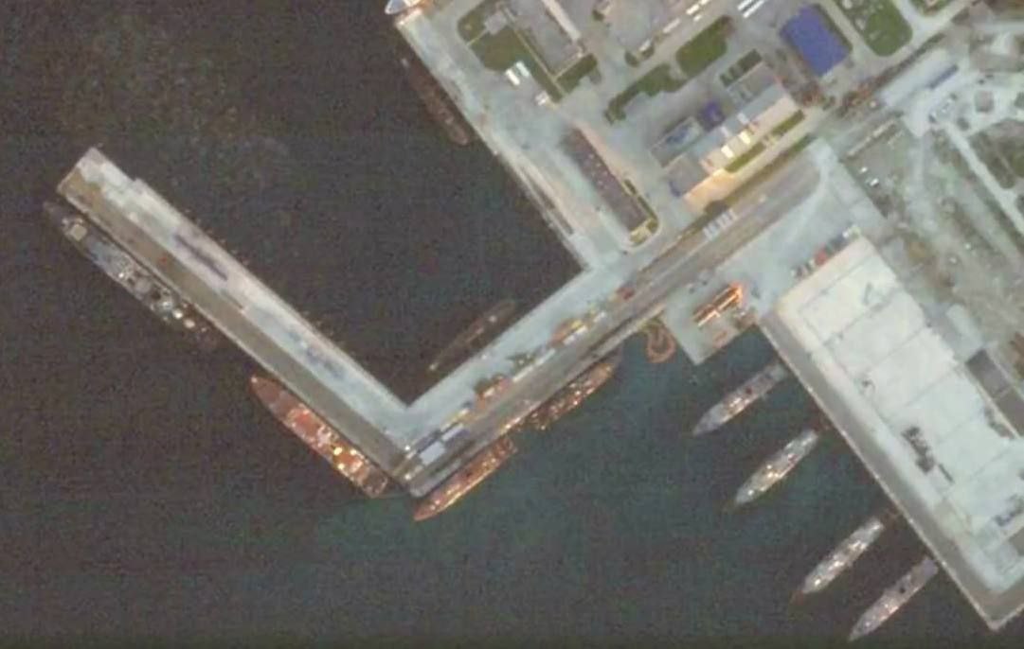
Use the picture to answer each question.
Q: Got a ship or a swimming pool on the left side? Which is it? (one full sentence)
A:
It is a ship that can be seen on the left side.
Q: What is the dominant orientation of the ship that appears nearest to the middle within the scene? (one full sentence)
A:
The ship that appears nearest to the middle is oriented at an angle.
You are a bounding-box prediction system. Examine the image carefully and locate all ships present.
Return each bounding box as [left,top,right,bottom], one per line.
[523,361,620,436]
[249,375,389,498]
[430,298,521,369]
[414,439,522,521]
[402,59,470,146]
[795,511,889,599]
[736,427,824,507]
[383,0,421,14]
[694,362,792,435]
[851,557,944,640]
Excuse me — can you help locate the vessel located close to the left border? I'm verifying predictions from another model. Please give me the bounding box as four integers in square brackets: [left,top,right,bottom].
[44,199,222,348]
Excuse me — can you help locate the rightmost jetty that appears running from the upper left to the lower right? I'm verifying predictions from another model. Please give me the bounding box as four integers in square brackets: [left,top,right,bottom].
[761,235,1024,628]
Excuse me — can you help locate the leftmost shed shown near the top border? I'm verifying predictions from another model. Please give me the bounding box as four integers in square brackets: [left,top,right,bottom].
[484,8,509,34]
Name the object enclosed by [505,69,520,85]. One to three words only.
vehicle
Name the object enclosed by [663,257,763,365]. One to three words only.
pier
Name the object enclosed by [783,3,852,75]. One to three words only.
building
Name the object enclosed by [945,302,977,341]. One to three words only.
shed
